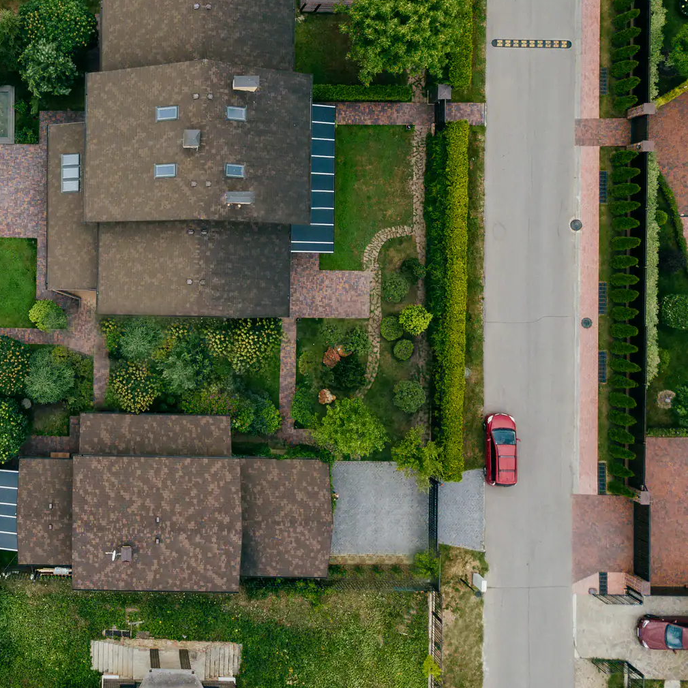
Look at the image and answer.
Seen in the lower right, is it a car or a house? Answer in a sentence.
The one visible in the lower right is a car.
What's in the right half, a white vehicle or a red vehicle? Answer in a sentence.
Looking in the right half, you will find a red vehicle.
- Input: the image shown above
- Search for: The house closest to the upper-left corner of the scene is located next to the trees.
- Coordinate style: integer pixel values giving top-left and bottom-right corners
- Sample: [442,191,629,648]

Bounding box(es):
[45,0,336,320]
